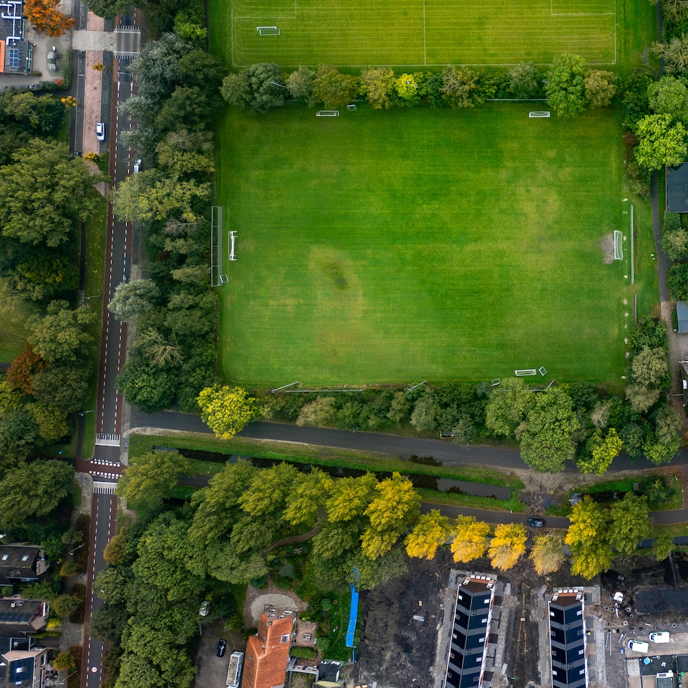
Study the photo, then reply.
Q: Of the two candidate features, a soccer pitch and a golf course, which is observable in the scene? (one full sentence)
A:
It is a soccer pitch that can be seen here.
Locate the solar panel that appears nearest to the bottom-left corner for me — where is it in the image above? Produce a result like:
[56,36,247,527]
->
[10,658,34,684]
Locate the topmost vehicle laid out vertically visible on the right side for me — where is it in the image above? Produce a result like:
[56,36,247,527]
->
[611,592,624,618]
